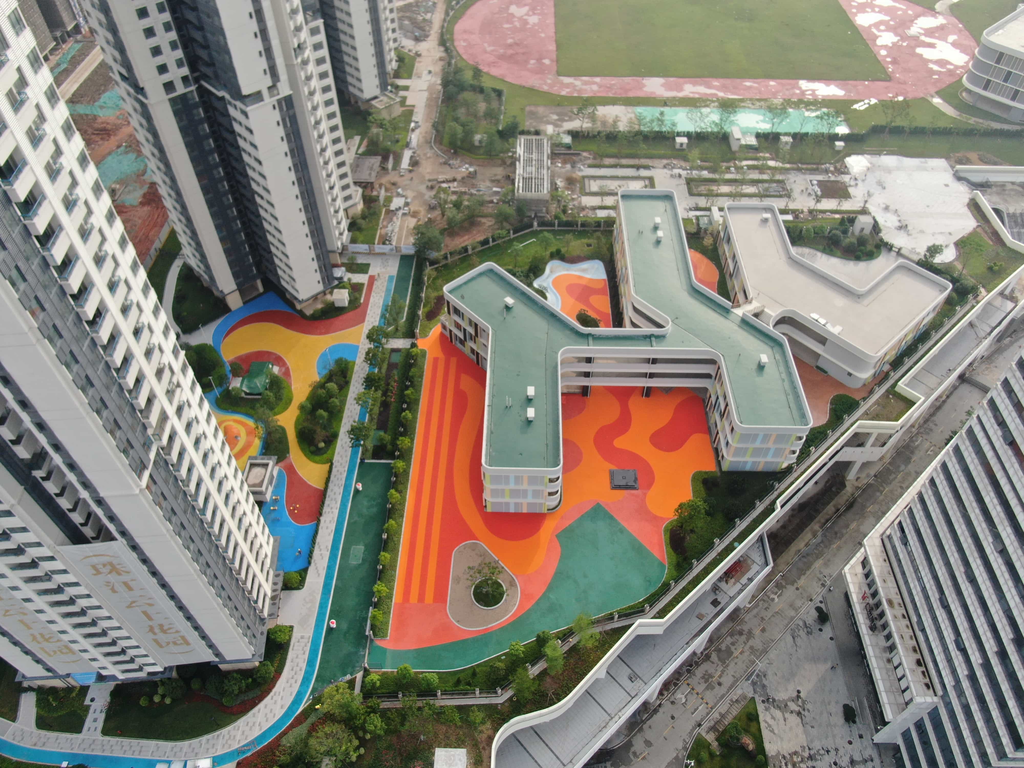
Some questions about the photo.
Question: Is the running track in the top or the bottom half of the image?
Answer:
top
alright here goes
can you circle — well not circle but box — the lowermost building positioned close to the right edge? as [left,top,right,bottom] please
[841,321,1024,768]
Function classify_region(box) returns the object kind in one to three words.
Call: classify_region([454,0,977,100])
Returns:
running track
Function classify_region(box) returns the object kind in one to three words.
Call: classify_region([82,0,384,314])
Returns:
building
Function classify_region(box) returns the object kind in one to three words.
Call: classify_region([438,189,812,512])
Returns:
building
